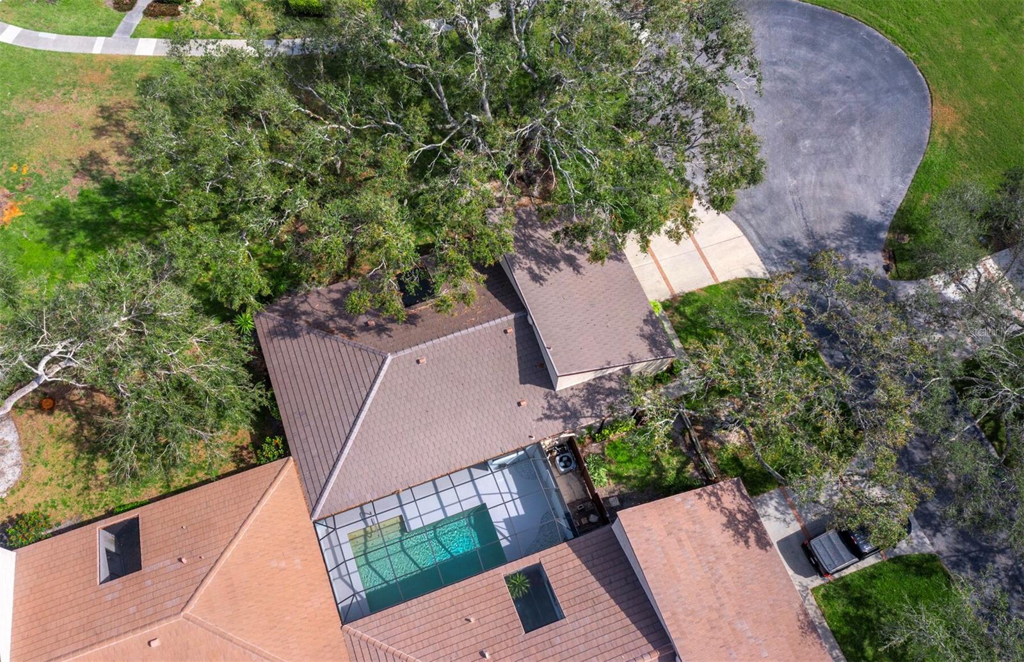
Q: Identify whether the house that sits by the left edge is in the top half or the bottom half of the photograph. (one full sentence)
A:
It is in the bottom half that the house that sits by the left edge appears.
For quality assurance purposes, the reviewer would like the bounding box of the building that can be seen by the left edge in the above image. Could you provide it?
[0,455,353,662]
